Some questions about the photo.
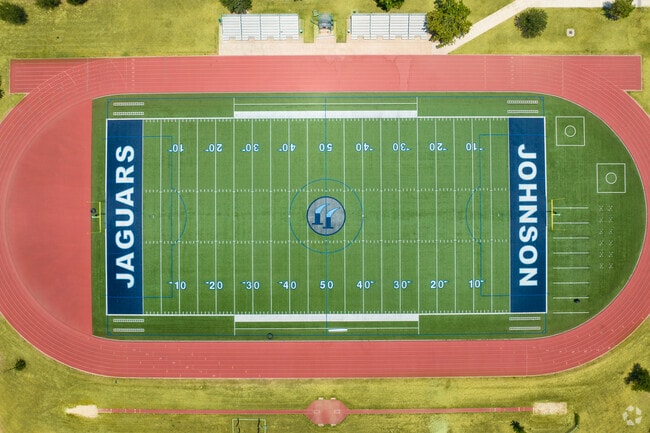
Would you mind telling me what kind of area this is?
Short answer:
sports ground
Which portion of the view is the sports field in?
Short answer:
center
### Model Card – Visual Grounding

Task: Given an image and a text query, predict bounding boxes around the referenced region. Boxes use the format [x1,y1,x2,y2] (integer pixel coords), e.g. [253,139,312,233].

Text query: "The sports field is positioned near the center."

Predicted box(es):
[93,92,646,340]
